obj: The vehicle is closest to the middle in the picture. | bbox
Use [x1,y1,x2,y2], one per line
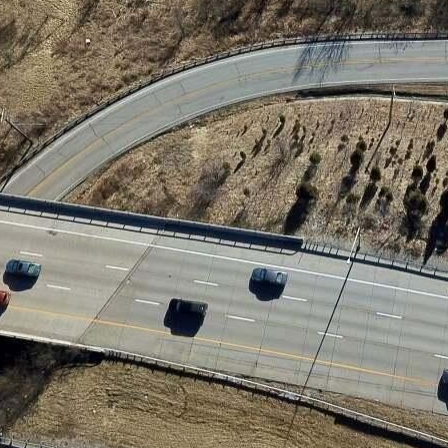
[249,271,289,291]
